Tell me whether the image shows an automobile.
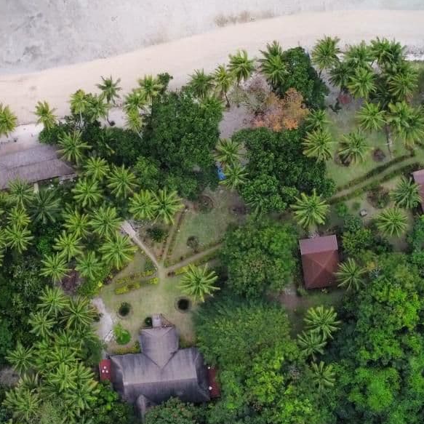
No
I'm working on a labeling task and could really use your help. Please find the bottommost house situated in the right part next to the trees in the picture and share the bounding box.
[298,235,341,290]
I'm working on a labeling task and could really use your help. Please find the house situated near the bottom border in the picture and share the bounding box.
[99,315,219,418]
